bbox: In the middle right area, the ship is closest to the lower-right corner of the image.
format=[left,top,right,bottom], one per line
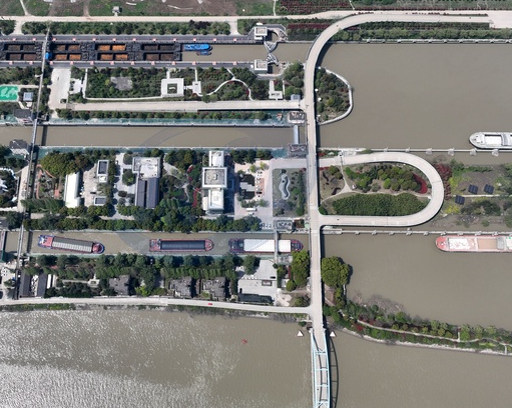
[435,235,512,253]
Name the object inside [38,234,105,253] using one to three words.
ship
